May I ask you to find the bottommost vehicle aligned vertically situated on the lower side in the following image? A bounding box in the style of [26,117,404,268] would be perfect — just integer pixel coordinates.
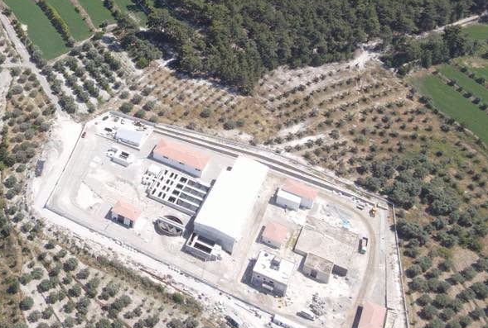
[358,229,370,252]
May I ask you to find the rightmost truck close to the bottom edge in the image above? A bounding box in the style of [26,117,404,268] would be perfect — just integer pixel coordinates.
[289,299,325,326]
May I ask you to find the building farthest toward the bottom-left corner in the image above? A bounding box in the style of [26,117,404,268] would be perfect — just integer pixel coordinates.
[112,200,141,227]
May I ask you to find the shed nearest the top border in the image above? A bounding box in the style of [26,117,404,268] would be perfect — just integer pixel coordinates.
[115,130,143,151]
